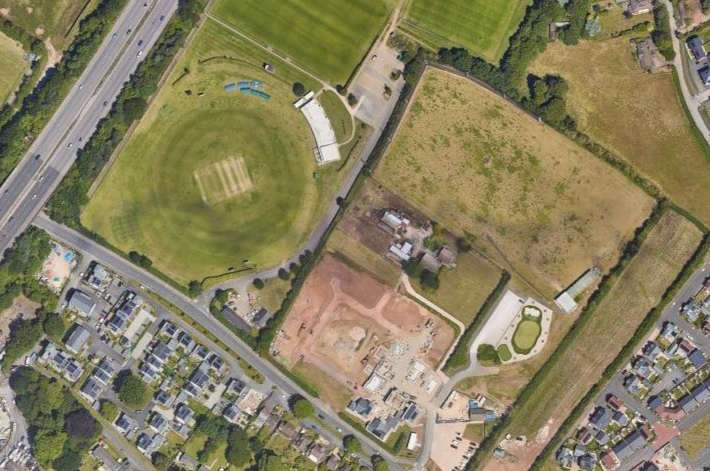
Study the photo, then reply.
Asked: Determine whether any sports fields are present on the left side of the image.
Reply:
Yes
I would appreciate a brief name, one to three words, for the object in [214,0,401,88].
sports field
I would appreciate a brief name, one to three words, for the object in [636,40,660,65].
barn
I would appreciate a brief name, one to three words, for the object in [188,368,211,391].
house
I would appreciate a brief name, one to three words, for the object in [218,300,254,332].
building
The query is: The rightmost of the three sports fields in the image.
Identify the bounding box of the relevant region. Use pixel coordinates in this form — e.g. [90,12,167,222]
[398,0,532,66]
